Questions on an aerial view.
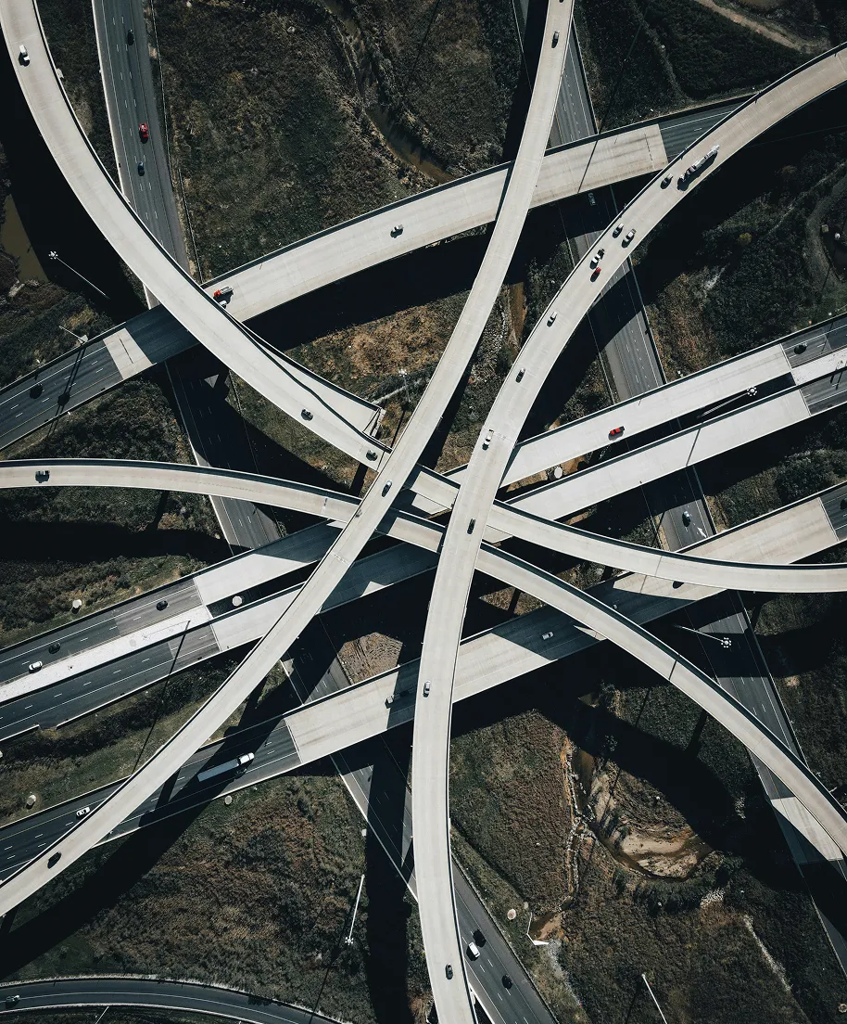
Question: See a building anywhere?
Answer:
No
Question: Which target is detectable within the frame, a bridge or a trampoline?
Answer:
bridge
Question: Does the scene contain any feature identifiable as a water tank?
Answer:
No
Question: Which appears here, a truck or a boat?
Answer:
truck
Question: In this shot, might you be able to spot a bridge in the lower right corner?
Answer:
Yes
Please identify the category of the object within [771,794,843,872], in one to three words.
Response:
bridge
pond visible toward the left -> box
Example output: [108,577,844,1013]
[0,174,61,284]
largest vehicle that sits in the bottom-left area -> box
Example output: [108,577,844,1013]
[196,753,251,782]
